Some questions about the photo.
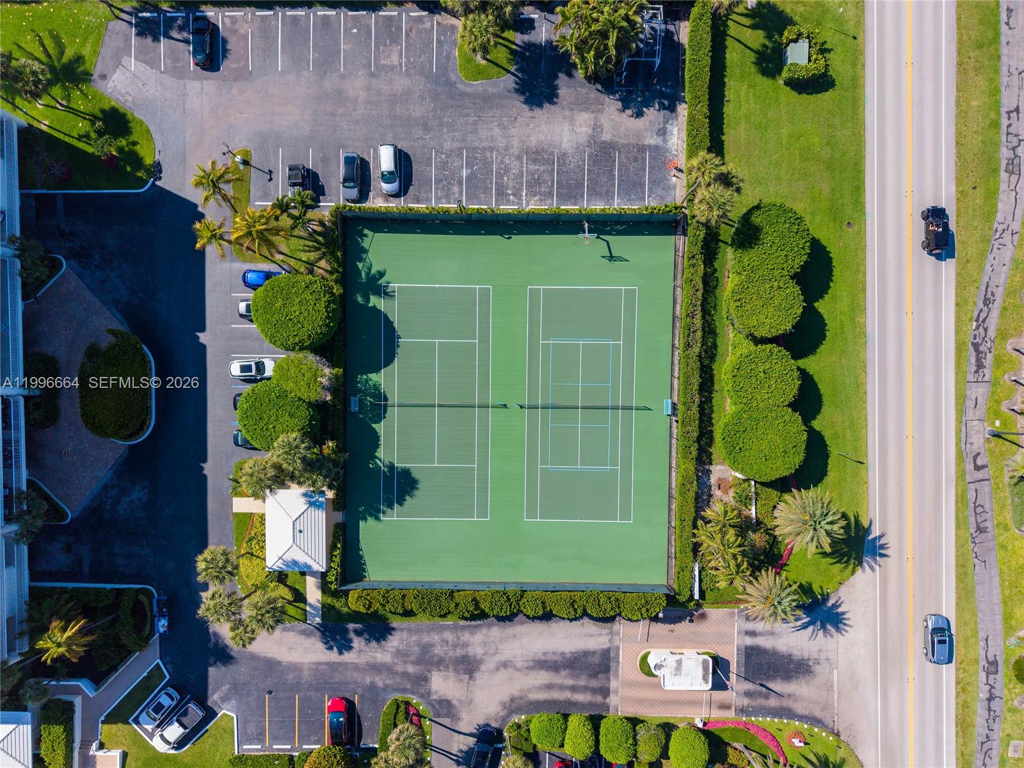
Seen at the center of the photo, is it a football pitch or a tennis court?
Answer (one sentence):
It is a tennis court that can be seen at the center of the photo.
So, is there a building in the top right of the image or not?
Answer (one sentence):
No, no building can be made out in the top right of the image.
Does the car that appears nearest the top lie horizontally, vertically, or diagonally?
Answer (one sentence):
Seen from above, the car that appears nearest the top lies vertically.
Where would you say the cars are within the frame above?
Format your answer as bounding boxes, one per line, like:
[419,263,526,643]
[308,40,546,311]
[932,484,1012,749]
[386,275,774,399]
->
[236,301,251,320]
[339,152,362,204]
[188,18,215,70]
[554,753,572,768]
[233,432,259,452]
[921,209,951,256]
[138,686,180,729]
[286,156,311,199]
[232,393,241,411]
[473,721,496,768]
[376,143,400,197]
[923,615,951,663]
[230,358,274,380]
[326,697,349,746]
[241,267,283,289]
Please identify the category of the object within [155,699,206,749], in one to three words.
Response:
truck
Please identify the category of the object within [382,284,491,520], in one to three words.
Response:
tennis court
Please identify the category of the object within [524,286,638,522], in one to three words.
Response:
tennis court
